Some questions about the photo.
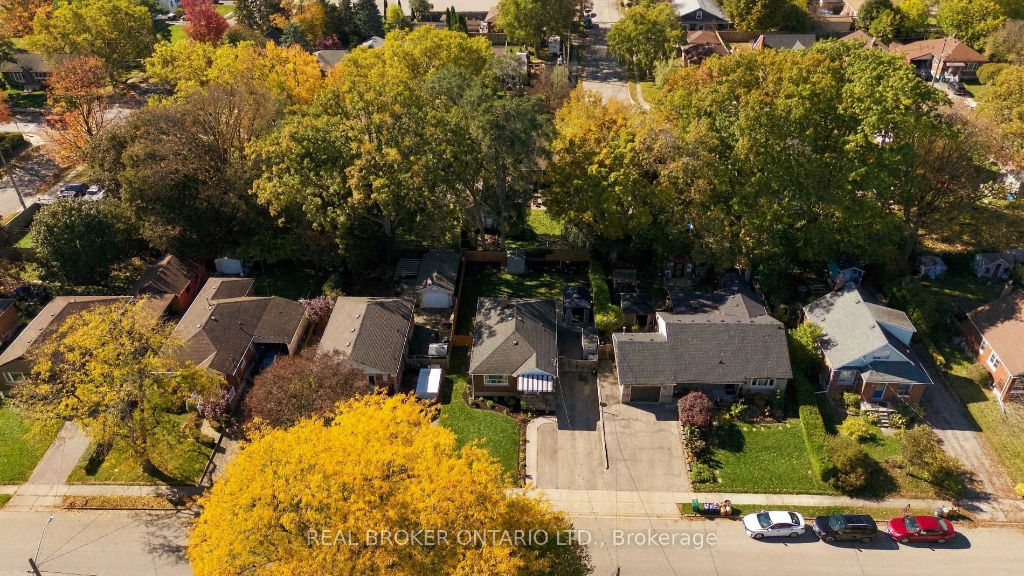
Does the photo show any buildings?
Yes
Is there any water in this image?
No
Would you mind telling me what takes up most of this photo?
trees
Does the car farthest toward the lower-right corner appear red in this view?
Yes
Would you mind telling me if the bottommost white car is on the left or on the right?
right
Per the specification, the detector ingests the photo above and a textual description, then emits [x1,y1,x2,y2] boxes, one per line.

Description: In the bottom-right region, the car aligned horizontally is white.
[745,511,807,541]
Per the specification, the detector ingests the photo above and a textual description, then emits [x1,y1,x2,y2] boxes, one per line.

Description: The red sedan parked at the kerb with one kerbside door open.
[887,508,956,546]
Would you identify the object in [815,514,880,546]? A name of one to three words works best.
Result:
car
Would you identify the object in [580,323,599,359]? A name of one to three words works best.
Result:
shed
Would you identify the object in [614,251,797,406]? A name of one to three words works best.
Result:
house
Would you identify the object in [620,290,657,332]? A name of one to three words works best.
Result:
building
